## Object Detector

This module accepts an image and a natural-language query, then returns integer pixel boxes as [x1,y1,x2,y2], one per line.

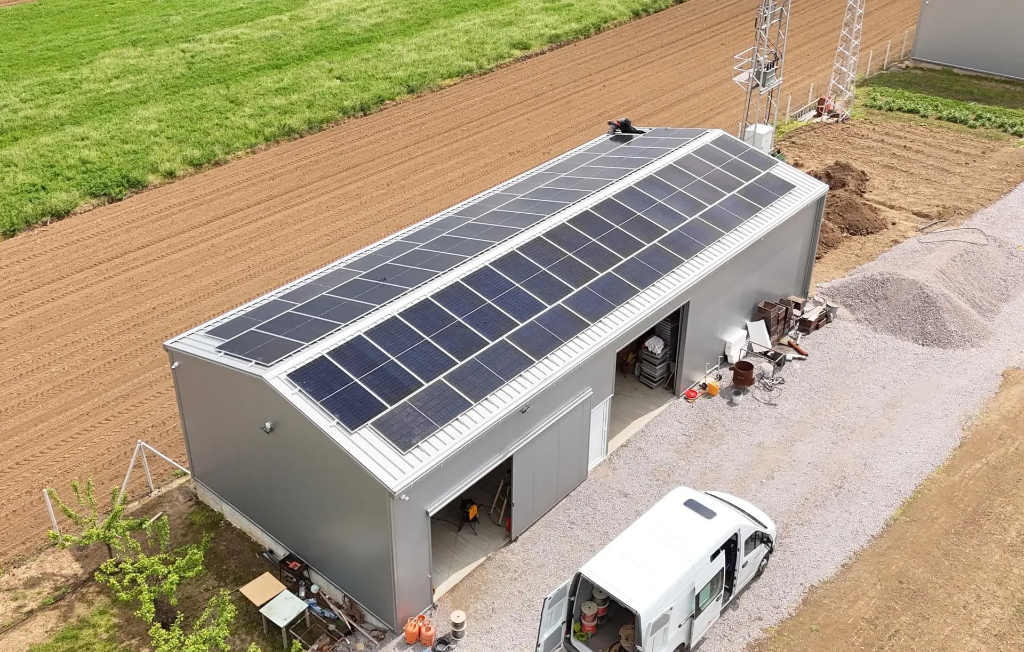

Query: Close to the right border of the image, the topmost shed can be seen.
[911,0,1024,77]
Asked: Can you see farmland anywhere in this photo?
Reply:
Yes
